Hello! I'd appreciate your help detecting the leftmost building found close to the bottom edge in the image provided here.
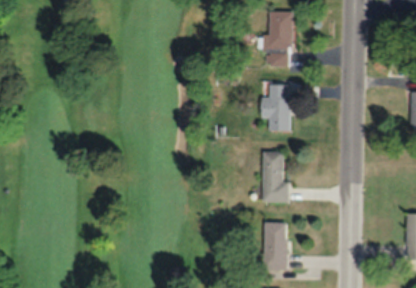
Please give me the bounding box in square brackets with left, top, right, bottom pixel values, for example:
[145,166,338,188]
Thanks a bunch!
[264,222,293,274]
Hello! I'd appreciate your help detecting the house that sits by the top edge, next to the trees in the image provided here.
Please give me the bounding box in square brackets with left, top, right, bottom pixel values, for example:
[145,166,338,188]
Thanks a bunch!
[258,12,294,68]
